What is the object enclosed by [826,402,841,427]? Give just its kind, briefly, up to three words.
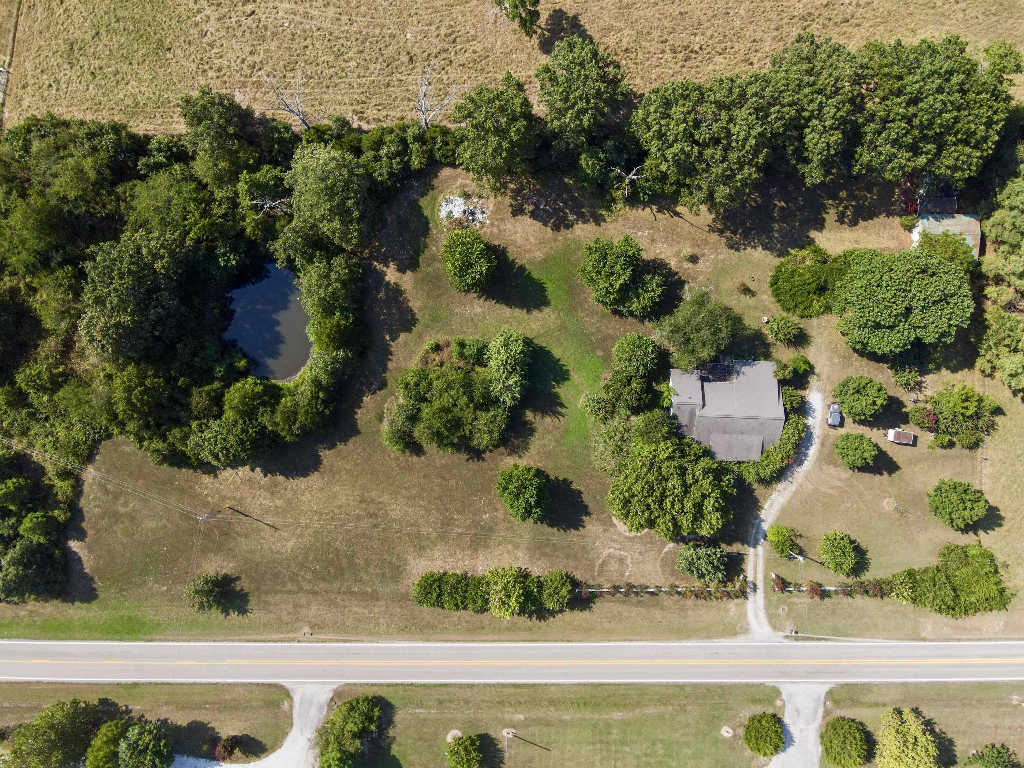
car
